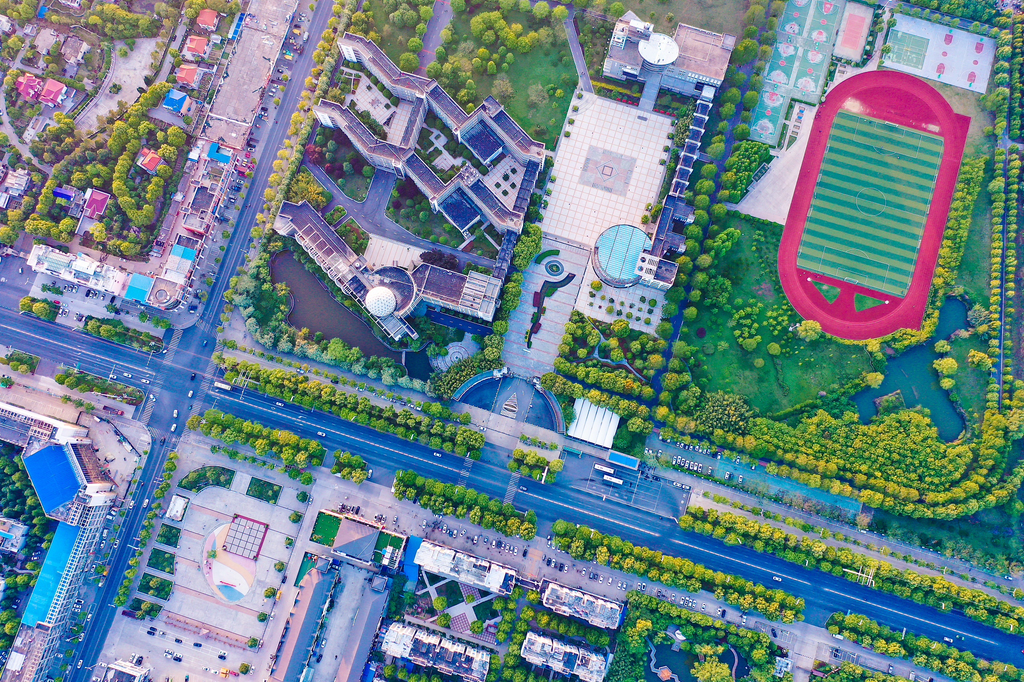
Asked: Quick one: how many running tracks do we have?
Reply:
1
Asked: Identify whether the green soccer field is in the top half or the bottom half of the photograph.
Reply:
top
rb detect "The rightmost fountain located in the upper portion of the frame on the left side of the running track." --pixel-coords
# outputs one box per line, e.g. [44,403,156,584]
[546,259,564,277]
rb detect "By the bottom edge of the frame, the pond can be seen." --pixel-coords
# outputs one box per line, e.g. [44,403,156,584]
[644,642,745,682]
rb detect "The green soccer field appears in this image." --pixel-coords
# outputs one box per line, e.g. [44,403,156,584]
[795,105,946,300]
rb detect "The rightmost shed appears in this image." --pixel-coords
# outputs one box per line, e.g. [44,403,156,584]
[772,655,794,678]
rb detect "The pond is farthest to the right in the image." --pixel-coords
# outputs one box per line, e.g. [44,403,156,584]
[853,296,975,442]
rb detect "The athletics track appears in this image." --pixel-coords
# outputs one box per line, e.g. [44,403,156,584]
[777,71,972,341]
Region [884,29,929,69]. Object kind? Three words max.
tennis court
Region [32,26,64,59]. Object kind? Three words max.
house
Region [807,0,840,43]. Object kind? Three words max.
basketball court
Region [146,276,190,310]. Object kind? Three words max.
building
